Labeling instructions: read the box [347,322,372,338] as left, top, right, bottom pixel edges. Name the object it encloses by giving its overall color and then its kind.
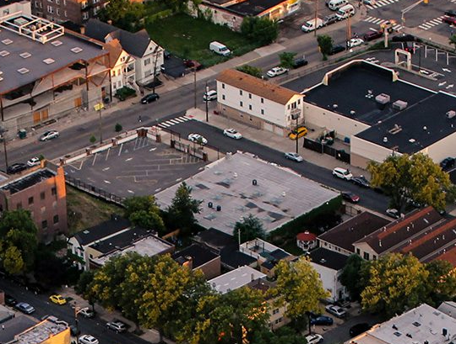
black car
